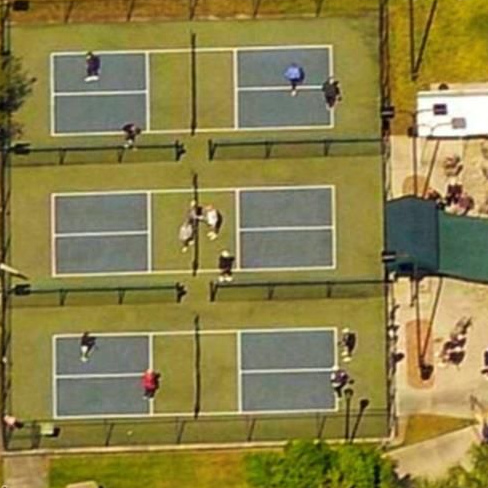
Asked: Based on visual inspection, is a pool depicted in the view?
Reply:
No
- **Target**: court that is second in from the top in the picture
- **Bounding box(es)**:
[4,154,388,306]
